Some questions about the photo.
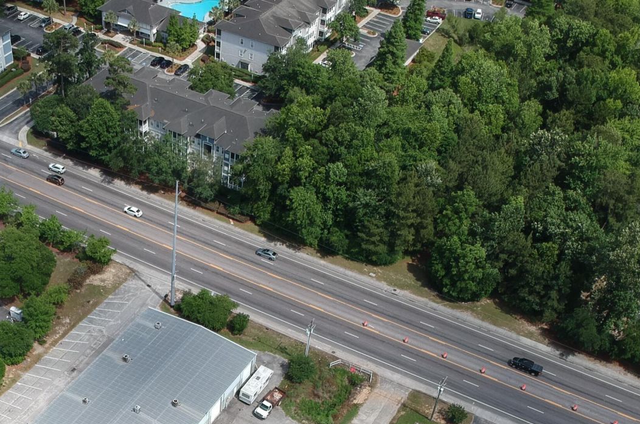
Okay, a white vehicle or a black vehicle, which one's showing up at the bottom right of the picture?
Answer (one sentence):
Visible at the bottom right of the picture is a black vehicle.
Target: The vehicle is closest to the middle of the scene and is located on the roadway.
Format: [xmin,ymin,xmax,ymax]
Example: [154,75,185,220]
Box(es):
[256,249,277,262]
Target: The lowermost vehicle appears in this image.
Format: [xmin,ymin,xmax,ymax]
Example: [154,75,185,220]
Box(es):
[258,390,283,417]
